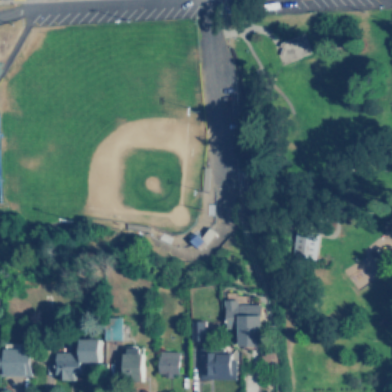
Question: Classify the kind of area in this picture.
sports ground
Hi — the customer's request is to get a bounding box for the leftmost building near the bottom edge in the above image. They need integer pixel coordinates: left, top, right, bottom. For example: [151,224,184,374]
[0,344,35,382]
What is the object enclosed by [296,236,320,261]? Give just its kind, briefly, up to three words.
building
